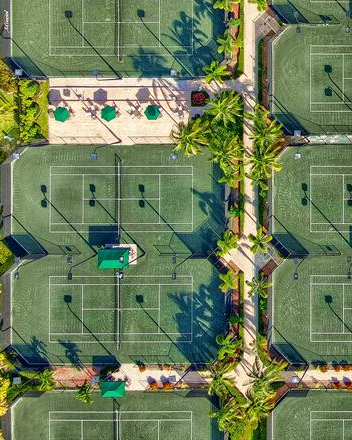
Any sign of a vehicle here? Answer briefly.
No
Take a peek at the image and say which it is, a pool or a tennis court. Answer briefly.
tennis court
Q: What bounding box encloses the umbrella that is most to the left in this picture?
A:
[53,106,71,121]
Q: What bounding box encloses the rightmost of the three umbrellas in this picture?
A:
[144,105,161,120]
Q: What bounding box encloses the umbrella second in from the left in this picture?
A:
[100,106,117,121]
